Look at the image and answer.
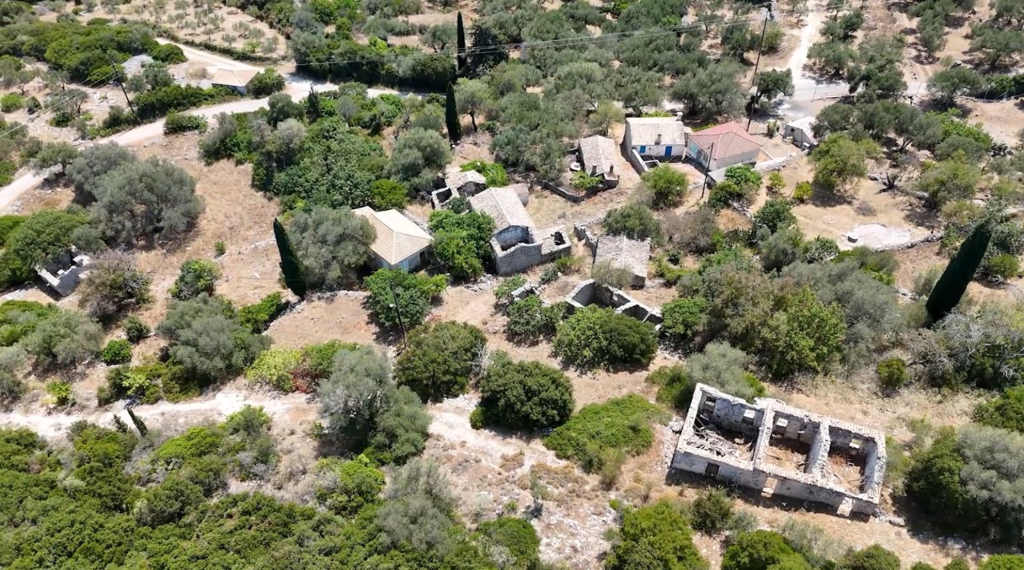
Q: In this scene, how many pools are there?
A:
0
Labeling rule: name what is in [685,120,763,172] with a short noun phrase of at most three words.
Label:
house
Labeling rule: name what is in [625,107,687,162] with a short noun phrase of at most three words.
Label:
house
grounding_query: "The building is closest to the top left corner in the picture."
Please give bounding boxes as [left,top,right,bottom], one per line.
[211,66,263,99]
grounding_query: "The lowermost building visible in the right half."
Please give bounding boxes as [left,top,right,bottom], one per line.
[589,234,654,290]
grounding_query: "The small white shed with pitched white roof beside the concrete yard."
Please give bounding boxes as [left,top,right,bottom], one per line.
[784,118,831,152]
